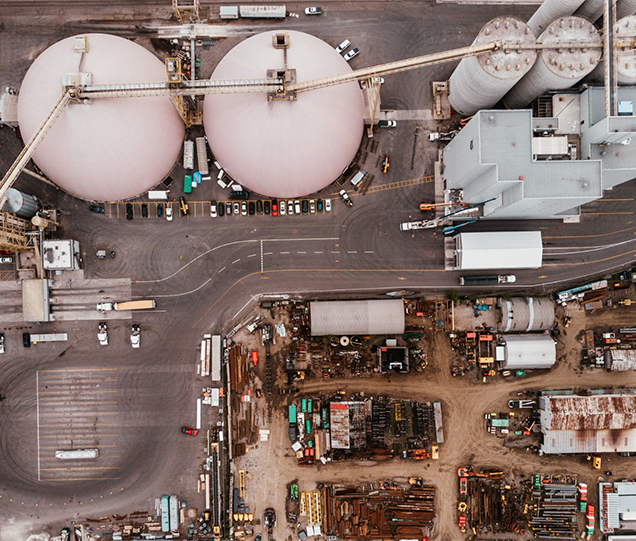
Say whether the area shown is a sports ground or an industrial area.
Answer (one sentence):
It's an industrial area.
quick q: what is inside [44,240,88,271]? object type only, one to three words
building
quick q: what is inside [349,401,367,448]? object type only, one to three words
shed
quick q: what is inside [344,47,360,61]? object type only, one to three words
vehicle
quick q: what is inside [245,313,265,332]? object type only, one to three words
vehicle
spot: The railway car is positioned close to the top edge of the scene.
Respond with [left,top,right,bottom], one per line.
[240,8,288,21]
